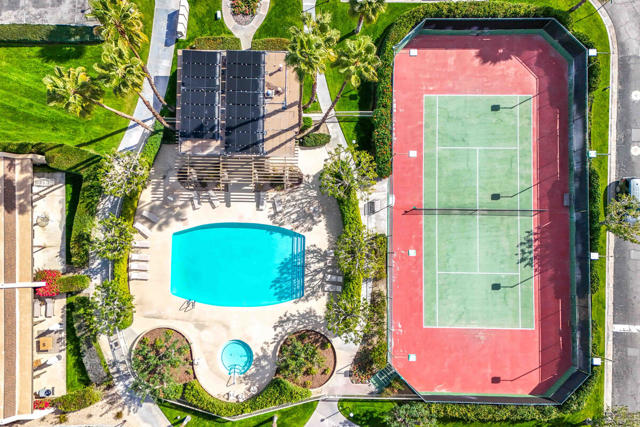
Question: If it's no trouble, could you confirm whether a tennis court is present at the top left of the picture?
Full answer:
No, no tennis court appears at the top left of the picture.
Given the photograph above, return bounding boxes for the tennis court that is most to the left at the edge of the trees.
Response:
[385,29,574,393]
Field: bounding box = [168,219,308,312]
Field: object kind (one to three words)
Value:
swimming pool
